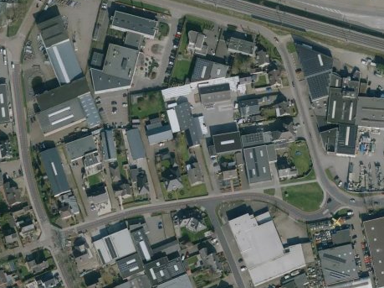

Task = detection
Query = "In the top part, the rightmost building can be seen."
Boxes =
[356,96,384,129]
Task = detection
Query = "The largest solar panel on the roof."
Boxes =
[309,72,330,99]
